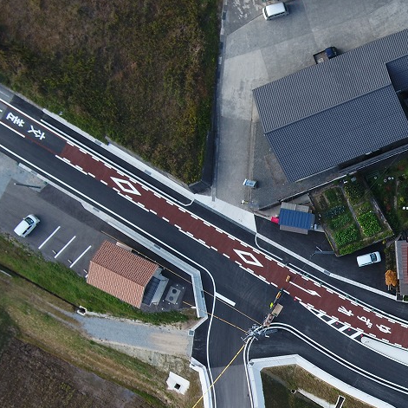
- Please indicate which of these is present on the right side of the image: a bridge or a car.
car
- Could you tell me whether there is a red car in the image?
No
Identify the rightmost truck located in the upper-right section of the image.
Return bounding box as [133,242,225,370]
[310,42,338,64]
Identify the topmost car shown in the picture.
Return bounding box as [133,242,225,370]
[262,1,290,21]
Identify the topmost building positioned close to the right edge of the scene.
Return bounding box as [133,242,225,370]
[253,29,408,182]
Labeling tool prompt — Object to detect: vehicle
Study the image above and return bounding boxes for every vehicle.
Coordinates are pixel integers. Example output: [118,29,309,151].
[14,212,42,239]
[262,1,290,21]
[310,42,338,64]
[356,251,383,266]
